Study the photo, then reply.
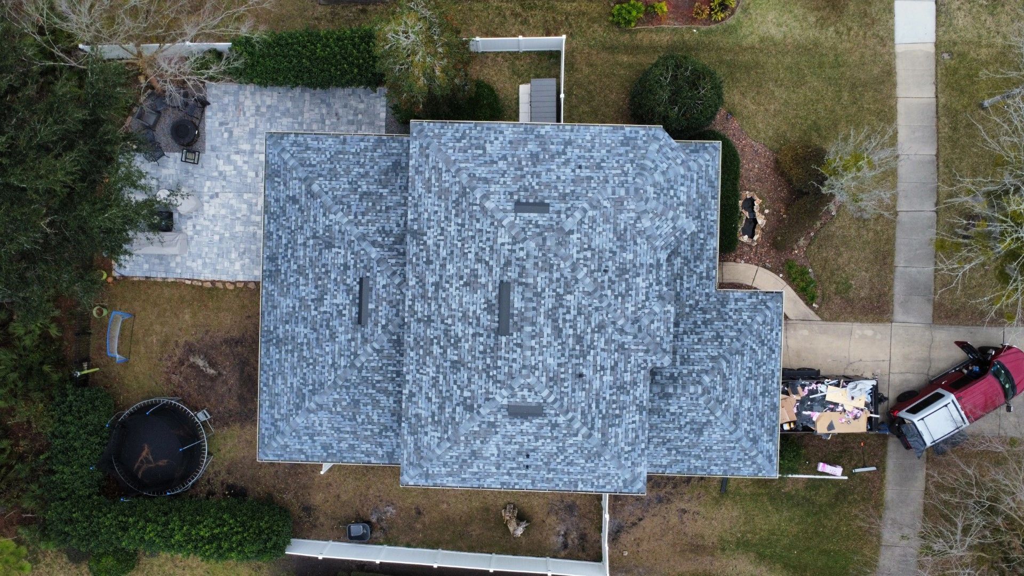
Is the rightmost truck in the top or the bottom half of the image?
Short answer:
bottom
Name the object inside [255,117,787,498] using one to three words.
house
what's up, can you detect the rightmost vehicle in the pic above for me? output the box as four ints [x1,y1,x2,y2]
[881,339,1024,449]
